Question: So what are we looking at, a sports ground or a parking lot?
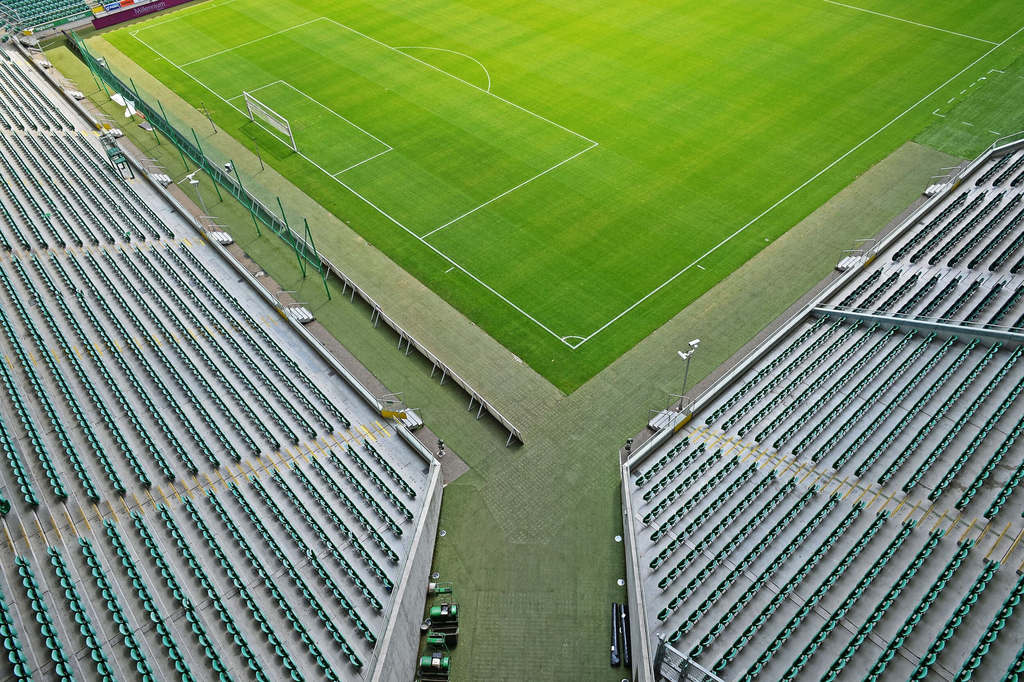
sports ground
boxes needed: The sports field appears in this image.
[98,0,1024,397]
